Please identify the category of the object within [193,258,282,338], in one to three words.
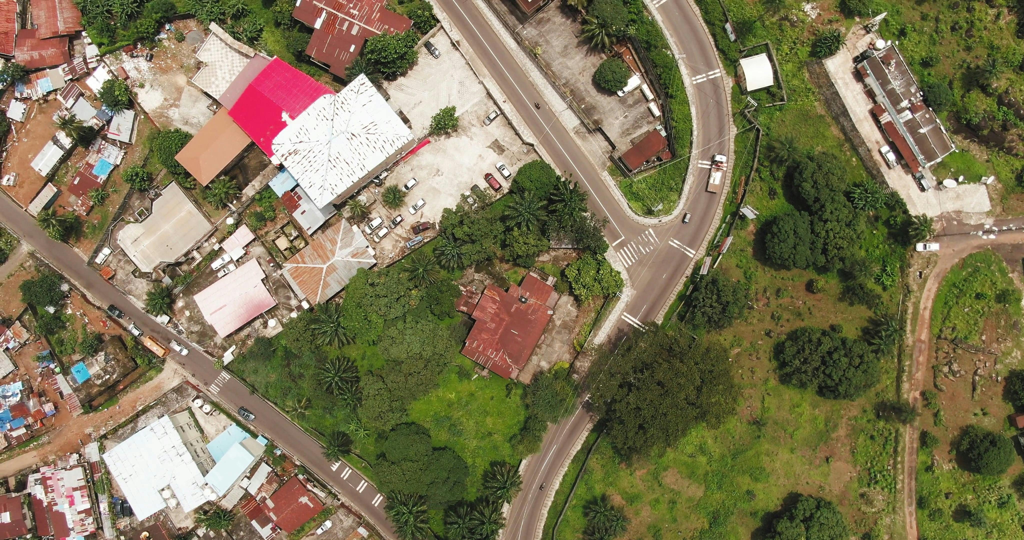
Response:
house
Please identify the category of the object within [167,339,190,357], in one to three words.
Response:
vehicle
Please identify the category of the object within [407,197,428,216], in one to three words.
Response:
car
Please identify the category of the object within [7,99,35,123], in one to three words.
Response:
shed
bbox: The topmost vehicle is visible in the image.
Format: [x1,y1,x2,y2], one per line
[423,41,442,60]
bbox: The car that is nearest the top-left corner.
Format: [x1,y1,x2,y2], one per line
[92,247,113,265]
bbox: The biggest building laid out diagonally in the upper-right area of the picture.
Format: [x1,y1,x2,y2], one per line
[855,45,955,173]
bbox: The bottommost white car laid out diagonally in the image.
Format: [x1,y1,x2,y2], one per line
[314,518,334,536]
